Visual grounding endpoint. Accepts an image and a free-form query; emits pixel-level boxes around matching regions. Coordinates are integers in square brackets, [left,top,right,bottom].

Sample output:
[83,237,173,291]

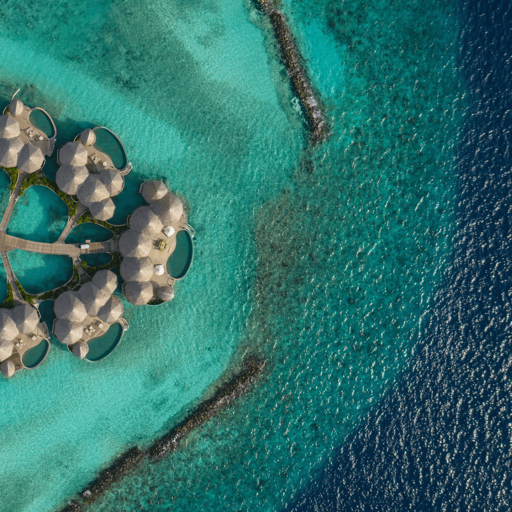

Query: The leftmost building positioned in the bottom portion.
[0,304,51,378]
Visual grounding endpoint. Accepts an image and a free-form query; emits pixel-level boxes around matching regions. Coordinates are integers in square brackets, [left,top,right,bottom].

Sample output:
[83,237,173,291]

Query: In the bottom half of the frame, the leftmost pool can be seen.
[22,339,48,368]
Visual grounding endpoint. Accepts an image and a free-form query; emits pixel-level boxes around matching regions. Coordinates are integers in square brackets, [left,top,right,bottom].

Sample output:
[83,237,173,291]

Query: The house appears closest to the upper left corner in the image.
[0,99,57,176]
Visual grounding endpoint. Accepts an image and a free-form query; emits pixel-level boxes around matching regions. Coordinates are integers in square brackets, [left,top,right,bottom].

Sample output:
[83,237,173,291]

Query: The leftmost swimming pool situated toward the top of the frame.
[29,110,54,140]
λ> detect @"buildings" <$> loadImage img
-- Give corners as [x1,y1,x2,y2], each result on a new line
[0,304,51,378]
[56,126,133,222]
[0,99,57,176]
[111,179,195,307]
[51,268,129,364]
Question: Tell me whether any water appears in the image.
Yes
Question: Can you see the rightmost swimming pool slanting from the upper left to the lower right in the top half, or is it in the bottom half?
top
